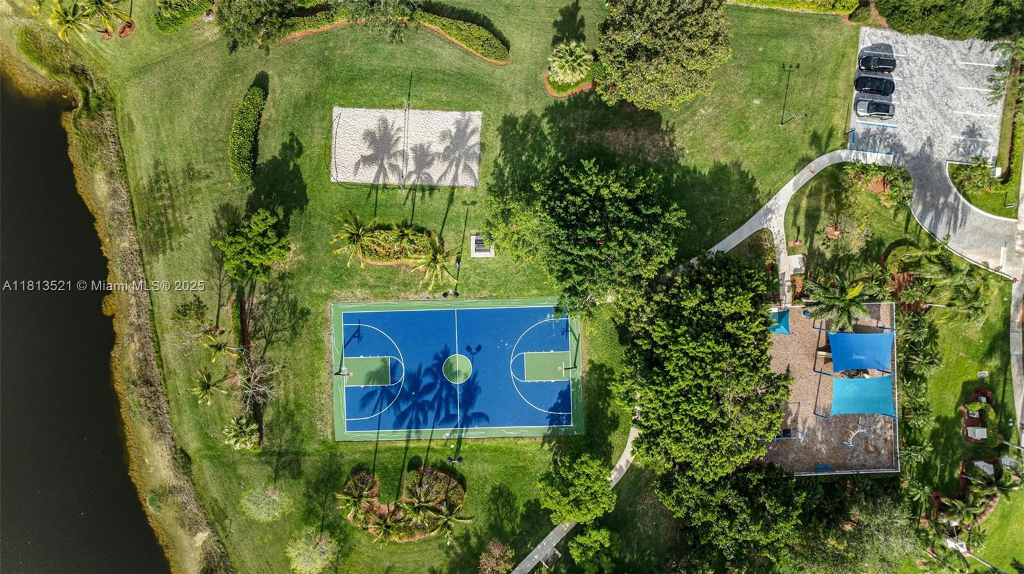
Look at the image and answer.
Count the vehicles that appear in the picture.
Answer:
three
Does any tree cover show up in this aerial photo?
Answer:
Yes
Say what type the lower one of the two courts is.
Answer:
basketball court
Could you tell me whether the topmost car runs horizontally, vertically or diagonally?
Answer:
horizontally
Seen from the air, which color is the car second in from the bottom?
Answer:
black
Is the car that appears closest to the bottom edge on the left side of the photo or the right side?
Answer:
right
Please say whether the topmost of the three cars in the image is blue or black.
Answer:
black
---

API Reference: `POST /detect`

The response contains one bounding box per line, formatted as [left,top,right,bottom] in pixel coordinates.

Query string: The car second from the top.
[856,74,897,95]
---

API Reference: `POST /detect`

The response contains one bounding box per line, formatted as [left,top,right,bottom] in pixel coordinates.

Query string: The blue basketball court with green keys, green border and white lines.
[330,298,584,442]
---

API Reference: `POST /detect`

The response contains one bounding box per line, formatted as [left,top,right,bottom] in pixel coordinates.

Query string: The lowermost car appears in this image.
[857,98,899,118]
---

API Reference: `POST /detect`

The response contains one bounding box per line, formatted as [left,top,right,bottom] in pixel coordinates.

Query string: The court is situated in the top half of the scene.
[325,107,482,194]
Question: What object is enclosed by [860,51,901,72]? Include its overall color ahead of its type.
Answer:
black car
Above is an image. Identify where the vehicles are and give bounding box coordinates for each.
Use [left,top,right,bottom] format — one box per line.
[857,98,899,118]
[856,74,897,95]
[860,51,901,72]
